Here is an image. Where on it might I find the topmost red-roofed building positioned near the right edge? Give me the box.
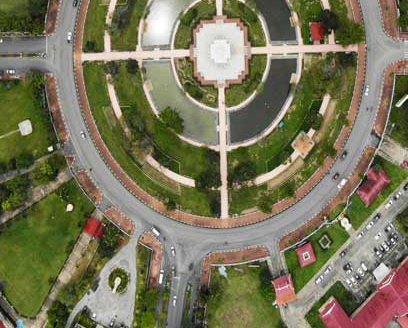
[356,170,391,203]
